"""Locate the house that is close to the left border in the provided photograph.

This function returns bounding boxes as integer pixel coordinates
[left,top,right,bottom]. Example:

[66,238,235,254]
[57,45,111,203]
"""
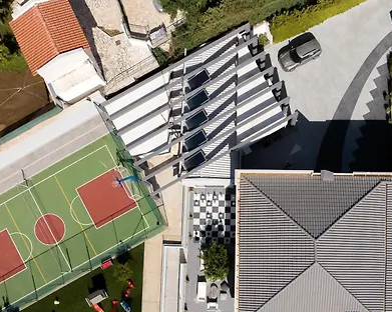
[7,0,112,111]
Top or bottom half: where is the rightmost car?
top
